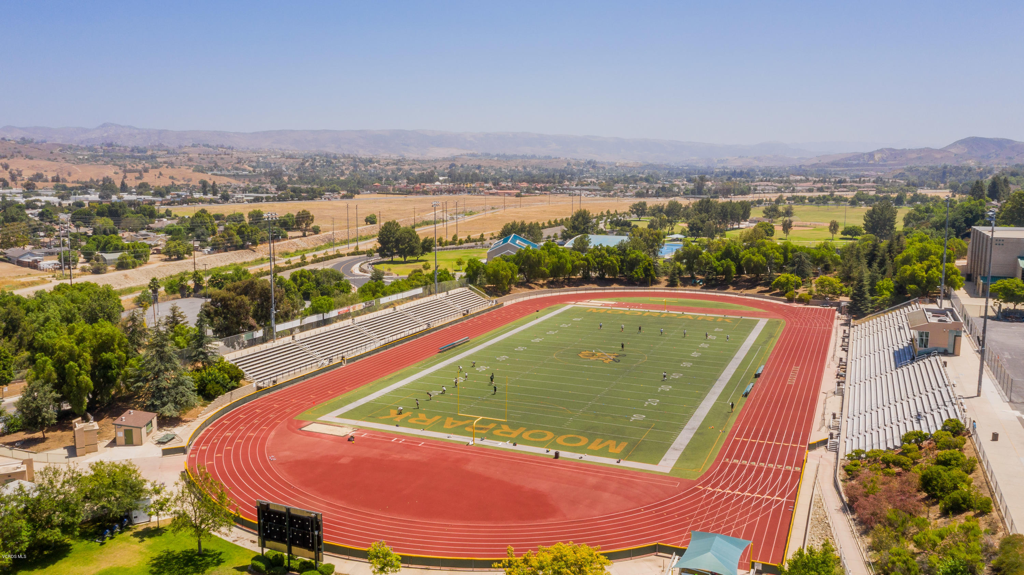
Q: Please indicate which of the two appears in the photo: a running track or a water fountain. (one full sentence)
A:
Looking from above, you can make out a running track.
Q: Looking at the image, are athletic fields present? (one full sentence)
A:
Yes, you can see an athletic field in this photo.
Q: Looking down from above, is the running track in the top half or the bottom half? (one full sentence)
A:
The running track sits in the bottom half of the picture.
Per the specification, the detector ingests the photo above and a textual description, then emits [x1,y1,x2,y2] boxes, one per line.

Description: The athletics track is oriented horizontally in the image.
[186,291,836,565]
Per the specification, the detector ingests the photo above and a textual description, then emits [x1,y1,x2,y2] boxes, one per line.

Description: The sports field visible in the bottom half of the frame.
[294,303,787,479]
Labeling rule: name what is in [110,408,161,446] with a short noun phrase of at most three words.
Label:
shed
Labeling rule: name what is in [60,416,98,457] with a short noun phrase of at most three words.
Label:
building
